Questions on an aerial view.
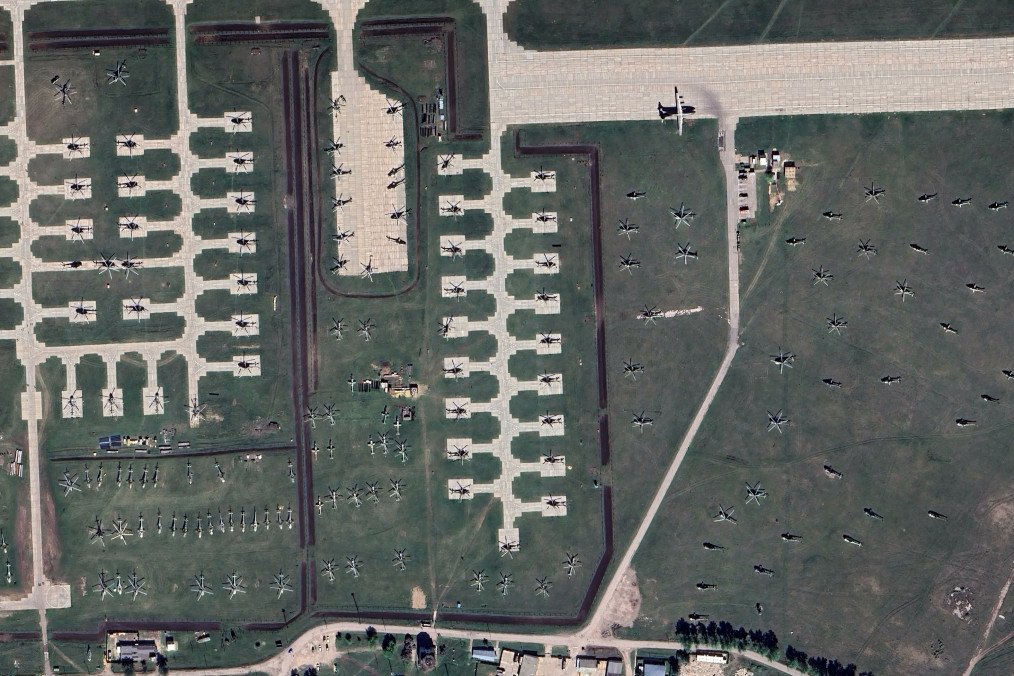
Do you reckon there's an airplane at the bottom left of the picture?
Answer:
No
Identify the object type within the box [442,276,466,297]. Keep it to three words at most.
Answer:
helipad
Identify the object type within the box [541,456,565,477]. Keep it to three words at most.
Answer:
helipad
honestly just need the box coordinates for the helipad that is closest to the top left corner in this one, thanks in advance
[63,137,90,158]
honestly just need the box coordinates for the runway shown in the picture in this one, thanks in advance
[504,38,1014,126]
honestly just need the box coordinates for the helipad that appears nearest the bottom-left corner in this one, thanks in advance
[46,585,70,608]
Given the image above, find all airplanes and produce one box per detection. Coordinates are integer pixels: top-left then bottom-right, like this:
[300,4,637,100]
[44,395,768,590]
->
[660,93,696,135]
